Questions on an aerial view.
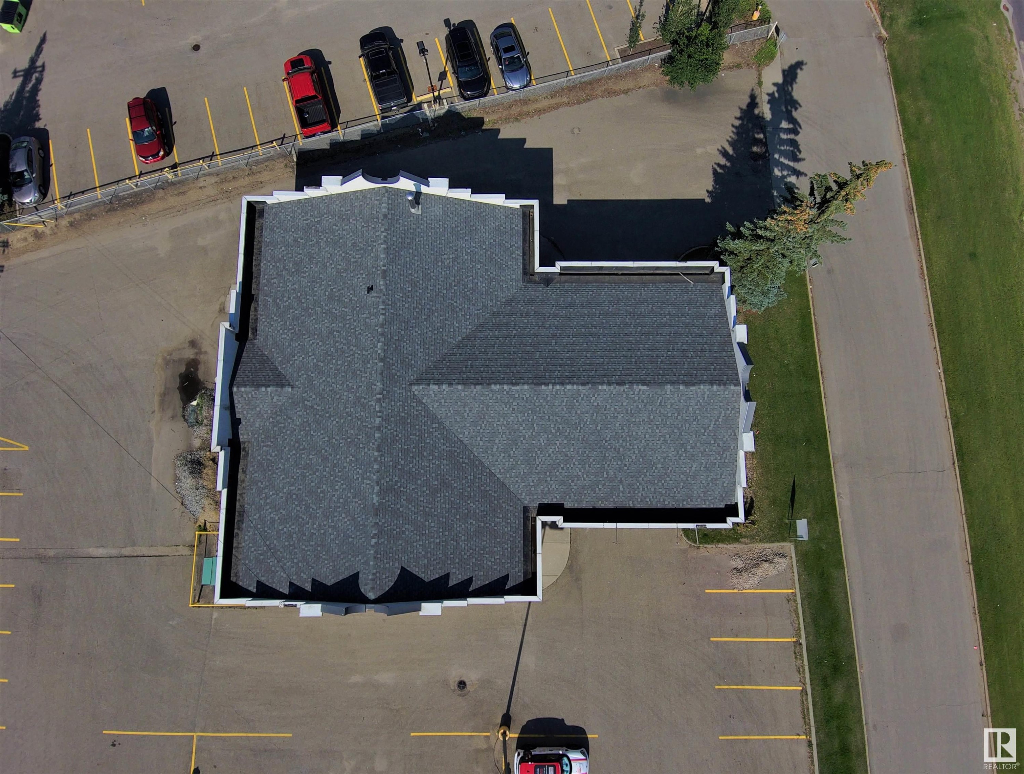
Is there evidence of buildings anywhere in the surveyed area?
Yes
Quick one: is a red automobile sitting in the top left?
Yes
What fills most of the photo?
paved ground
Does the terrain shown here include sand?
No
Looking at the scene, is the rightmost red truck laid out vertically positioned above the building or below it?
above it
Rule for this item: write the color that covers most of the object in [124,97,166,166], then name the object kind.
red car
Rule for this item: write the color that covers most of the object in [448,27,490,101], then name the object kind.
black car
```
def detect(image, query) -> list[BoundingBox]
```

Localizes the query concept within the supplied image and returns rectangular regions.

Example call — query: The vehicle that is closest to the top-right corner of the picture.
[492,26,533,93]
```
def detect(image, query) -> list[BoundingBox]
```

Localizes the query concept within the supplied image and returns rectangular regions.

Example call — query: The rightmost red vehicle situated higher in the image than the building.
[276,54,327,140]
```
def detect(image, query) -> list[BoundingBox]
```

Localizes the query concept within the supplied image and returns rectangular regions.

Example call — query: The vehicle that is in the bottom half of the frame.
[515,743,586,774]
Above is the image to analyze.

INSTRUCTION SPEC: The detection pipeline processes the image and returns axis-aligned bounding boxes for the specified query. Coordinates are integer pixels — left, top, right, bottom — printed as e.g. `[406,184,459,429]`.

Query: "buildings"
[213,168,758,620]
